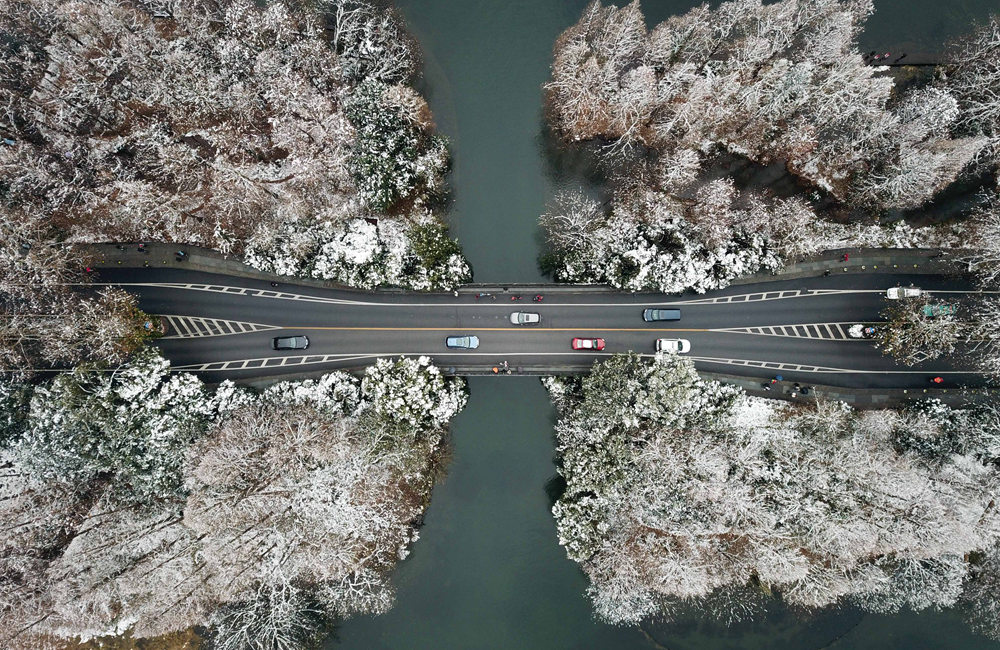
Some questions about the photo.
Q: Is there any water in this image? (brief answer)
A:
Yes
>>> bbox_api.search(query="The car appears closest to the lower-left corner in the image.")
[273,335,311,350]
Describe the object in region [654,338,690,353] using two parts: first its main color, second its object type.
white car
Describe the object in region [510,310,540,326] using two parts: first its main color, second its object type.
white car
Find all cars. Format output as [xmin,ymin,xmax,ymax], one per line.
[446,334,480,350]
[571,336,604,352]
[642,305,683,323]
[654,338,690,353]
[883,286,923,301]
[273,335,311,350]
[510,310,540,326]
